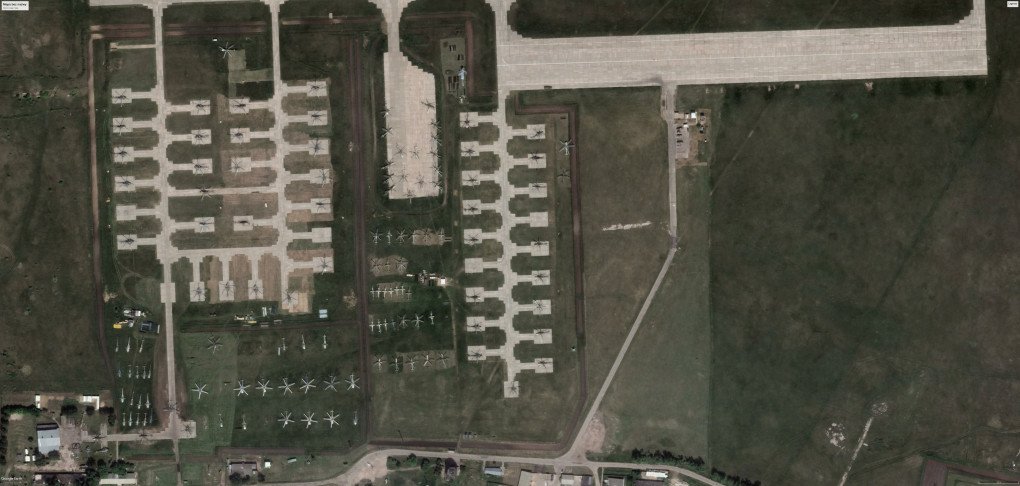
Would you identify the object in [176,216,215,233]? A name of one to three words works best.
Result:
helipad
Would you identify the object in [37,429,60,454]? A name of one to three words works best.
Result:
hangar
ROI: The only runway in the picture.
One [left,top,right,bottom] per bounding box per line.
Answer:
[497,24,988,91]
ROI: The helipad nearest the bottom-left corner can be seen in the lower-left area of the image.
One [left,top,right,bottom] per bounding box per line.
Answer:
[179,421,196,438]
